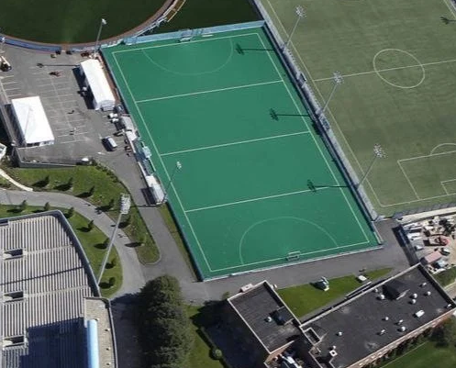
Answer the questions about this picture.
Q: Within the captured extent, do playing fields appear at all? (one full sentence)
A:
Yes, there is a playing field in the image.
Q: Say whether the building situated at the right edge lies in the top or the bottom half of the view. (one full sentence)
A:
You can find the building situated at the right edge in the bottom half.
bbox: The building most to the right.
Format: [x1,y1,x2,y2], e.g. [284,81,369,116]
[295,263,456,368]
